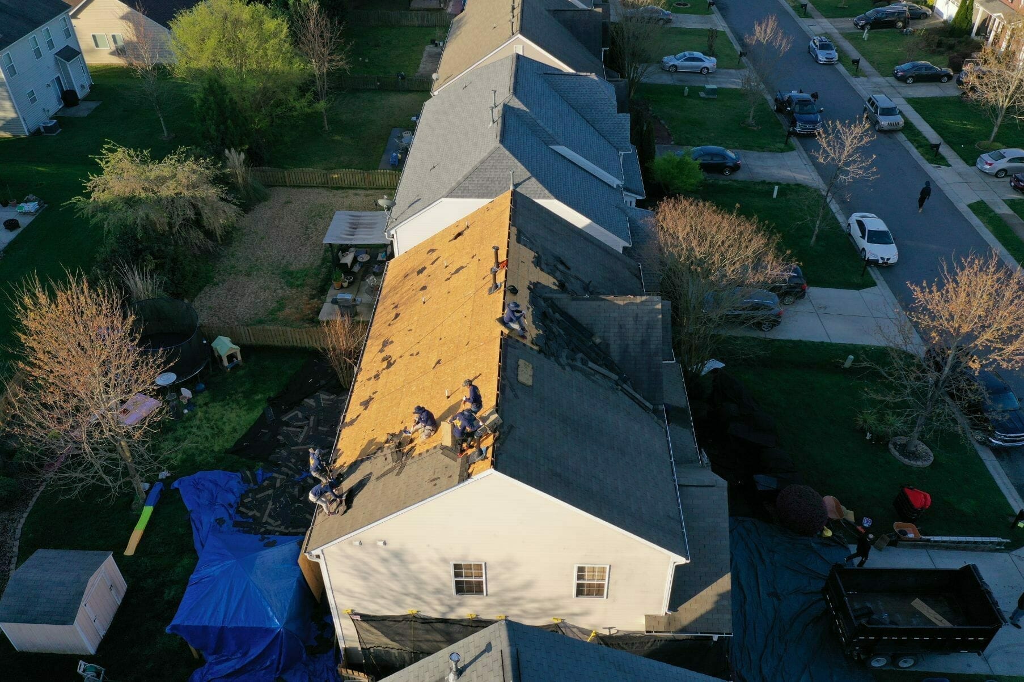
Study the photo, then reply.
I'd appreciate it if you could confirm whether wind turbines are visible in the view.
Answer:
No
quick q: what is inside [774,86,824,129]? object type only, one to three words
truck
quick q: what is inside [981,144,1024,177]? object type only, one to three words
car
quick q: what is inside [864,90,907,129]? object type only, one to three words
car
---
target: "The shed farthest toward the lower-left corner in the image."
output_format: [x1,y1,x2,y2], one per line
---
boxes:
[0,553,129,657]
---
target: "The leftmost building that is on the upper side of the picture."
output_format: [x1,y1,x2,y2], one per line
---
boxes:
[0,0,100,137]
